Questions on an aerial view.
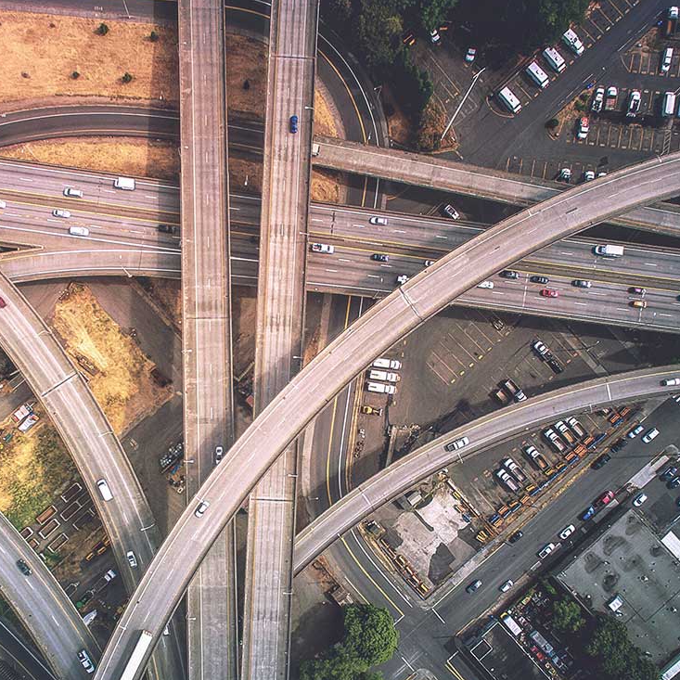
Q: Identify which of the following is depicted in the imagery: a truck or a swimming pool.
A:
truck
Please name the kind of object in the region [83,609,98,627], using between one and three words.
boat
